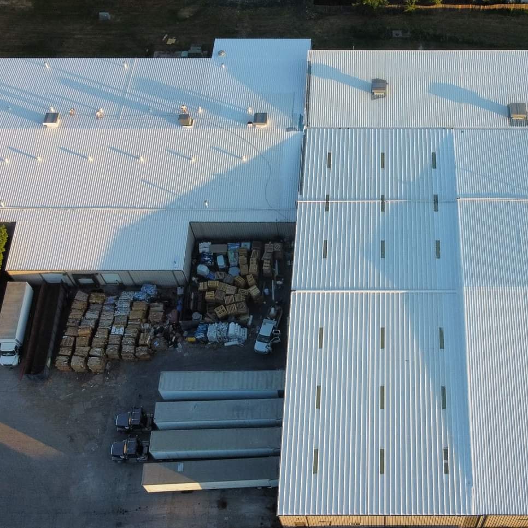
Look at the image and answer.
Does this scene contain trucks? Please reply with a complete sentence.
Yes, there is a truck in the image.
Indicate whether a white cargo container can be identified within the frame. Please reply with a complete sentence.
No, the scene contains no white cargo container.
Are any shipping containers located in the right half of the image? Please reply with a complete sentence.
No, looking in the right half of the image, there is no shipping container.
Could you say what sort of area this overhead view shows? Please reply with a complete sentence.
This image shows an industrial area.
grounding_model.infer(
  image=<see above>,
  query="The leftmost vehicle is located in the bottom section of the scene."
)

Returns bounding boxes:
[0,282,38,375]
